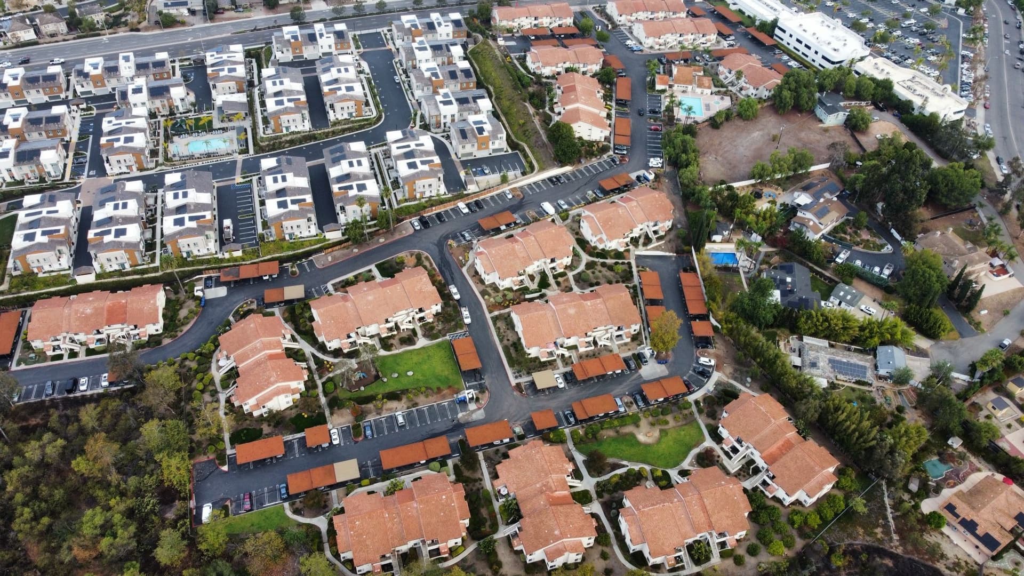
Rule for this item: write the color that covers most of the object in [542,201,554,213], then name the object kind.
white vehicle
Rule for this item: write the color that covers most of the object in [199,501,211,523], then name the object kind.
white vehicle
